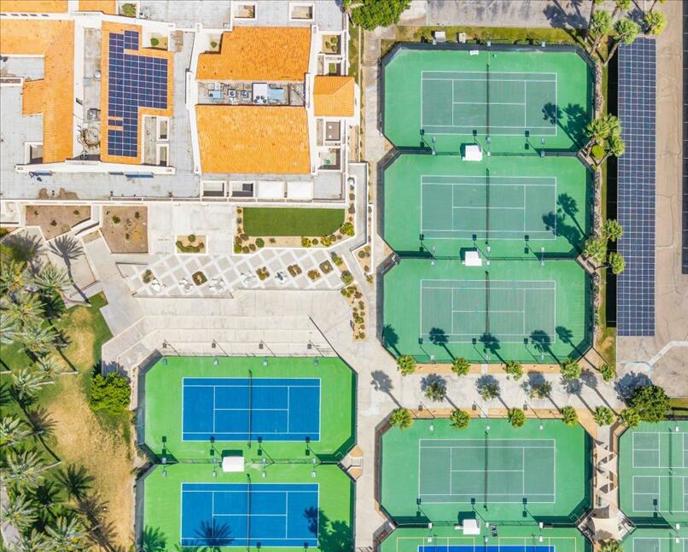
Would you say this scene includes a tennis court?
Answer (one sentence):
Yes, looking at the shot, I can spot a tennis court.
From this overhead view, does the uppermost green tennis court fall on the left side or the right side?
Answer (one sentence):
It is on the right.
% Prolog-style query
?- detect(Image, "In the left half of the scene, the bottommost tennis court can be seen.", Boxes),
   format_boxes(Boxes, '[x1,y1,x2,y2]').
[143,463,349,552]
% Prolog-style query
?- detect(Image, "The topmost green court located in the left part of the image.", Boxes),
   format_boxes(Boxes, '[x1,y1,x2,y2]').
[145,355,350,463]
